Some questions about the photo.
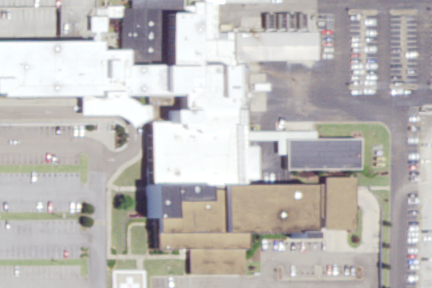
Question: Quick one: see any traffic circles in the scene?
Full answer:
No, there is no traffic circle in the image.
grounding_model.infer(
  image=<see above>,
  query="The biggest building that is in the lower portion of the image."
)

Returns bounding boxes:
[142,176,358,274]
